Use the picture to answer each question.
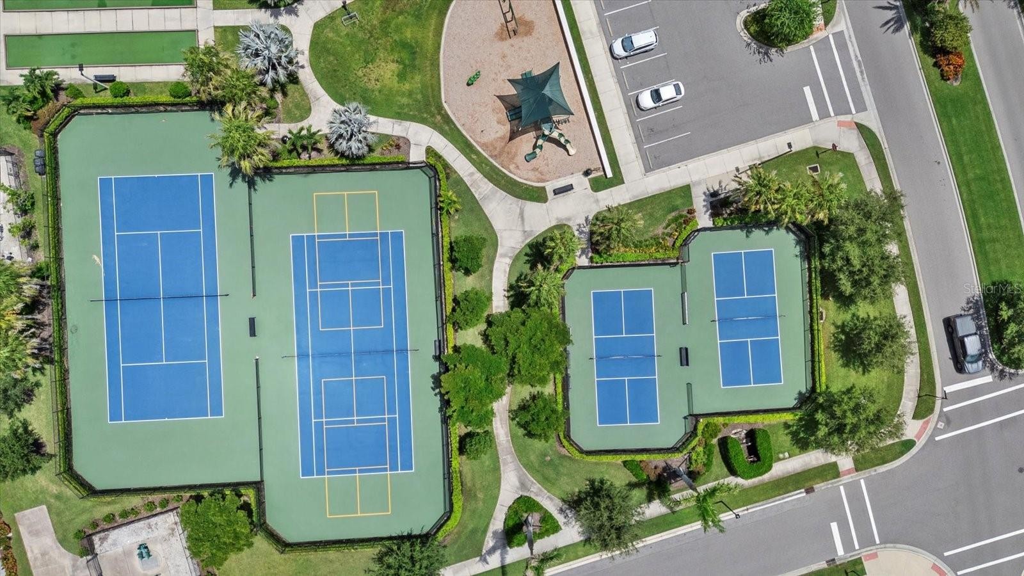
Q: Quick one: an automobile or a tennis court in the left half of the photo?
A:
tennis court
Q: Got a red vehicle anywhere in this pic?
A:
No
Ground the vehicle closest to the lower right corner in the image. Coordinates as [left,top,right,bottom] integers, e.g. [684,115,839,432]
[947,316,985,376]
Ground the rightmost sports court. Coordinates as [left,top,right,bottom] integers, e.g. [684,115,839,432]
[681,225,813,414]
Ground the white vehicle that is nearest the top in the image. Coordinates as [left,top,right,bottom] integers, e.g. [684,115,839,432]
[610,29,660,61]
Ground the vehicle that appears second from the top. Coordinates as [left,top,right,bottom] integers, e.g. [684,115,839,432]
[635,80,687,112]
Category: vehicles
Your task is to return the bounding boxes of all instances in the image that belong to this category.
[610,29,660,61]
[635,80,687,112]
[947,316,985,376]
